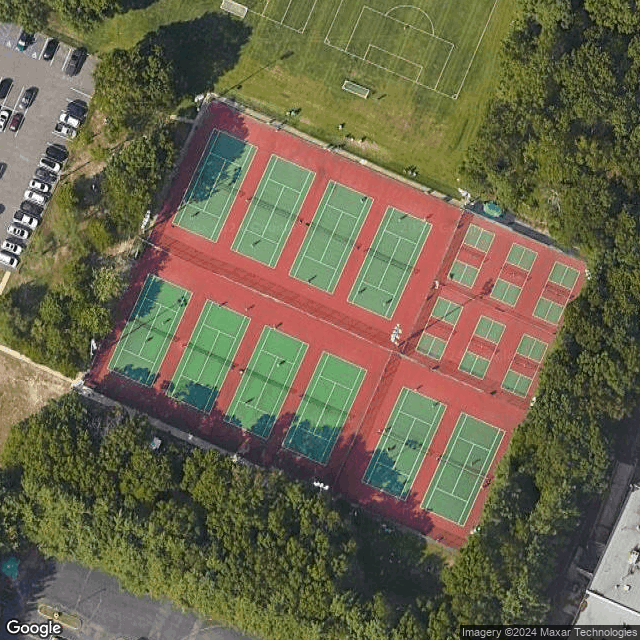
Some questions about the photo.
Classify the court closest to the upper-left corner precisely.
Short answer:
tennis court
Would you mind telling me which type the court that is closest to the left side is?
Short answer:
tennis court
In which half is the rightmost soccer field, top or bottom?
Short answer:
top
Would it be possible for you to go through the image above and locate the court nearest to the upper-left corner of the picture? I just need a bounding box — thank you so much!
[172,129,258,242]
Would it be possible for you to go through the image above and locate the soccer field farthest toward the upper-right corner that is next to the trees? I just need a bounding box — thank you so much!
[324,0,498,99]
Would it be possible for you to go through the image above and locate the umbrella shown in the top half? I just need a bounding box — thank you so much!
[484,202,501,216]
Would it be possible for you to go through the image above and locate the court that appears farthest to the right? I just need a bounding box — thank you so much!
[532,261,581,326]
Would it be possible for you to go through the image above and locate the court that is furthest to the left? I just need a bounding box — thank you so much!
[108,274,193,388]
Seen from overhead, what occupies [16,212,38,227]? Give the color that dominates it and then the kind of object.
white car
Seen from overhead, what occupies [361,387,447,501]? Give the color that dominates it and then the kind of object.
green tennis court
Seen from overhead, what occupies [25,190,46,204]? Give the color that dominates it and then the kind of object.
white vehicle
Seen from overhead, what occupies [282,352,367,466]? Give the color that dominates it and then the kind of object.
green tennis court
